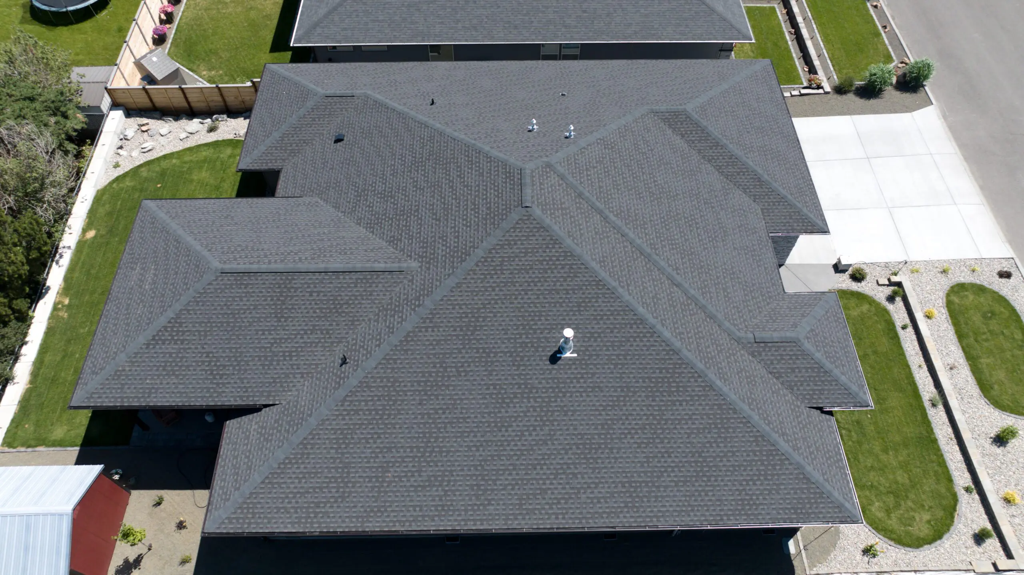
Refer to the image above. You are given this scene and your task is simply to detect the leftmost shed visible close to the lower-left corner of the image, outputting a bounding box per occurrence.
[0,465,132,575]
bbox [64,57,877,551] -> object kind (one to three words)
house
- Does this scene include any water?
No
